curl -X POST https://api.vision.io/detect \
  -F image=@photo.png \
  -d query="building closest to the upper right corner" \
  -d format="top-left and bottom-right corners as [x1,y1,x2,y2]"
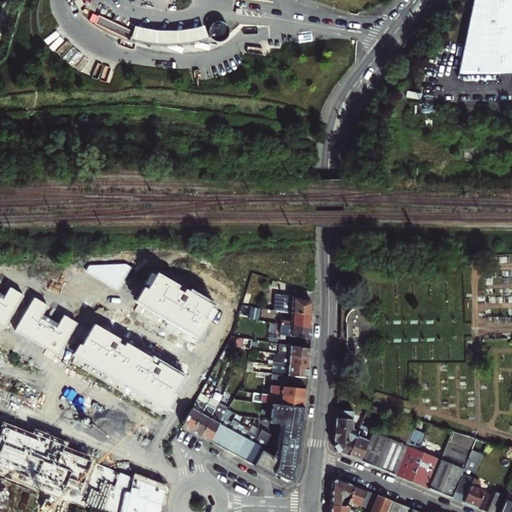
[456,0,512,75]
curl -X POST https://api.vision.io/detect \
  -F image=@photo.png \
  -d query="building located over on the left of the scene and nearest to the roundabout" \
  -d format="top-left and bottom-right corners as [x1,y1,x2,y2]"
[129,472,168,512]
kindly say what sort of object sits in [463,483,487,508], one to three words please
house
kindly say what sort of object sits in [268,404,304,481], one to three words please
building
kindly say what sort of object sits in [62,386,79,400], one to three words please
vehicle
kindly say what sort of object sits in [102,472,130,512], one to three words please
building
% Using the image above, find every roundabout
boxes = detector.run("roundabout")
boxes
[168,474,228,512]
